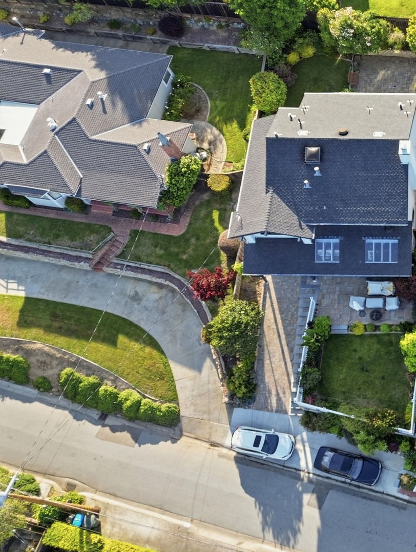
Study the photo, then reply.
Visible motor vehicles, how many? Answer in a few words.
2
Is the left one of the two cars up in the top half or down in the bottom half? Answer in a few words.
bottom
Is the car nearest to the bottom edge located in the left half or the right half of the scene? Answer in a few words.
right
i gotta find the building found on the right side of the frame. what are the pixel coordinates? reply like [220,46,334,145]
[226,92,416,288]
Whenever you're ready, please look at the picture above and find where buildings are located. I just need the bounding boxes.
[0,20,197,217]
[226,92,416,288]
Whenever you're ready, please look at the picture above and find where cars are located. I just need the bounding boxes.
[314,447,384,490]
[228,425,298,465]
